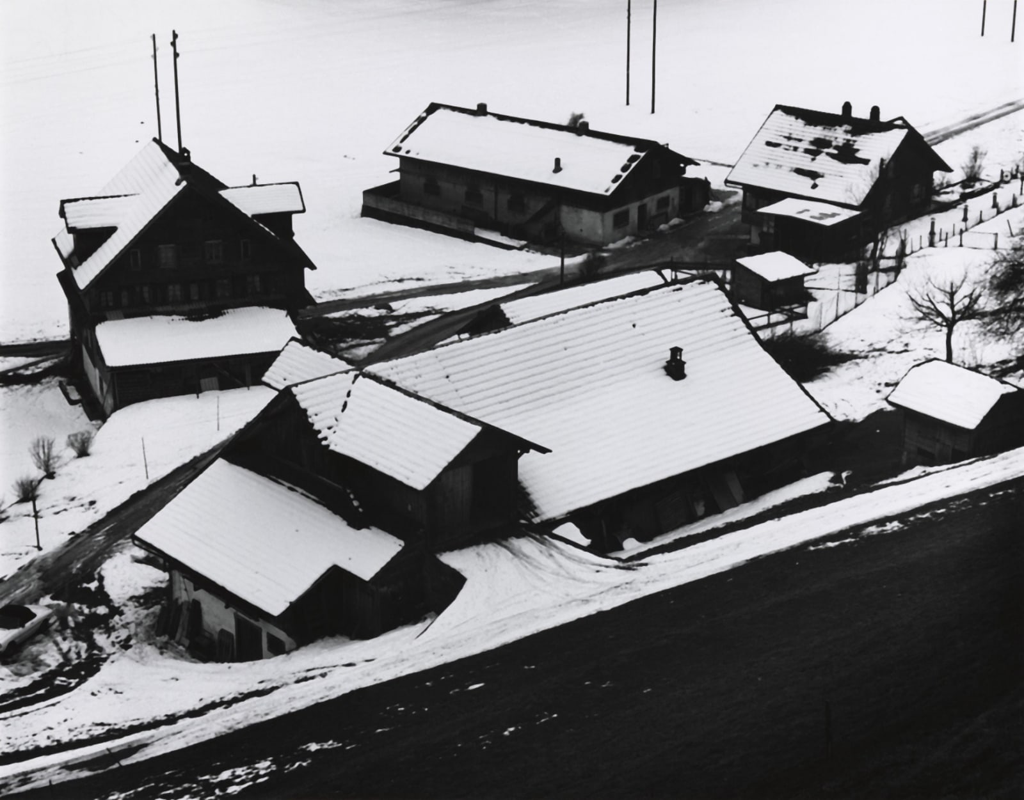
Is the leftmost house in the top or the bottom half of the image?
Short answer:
top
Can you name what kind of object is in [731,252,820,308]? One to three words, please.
shed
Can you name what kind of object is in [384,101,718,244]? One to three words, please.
building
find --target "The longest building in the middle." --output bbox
[128,272,833,648]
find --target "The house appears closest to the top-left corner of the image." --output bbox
[52,138,320,420]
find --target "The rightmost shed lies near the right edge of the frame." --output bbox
[886,358,1024,468]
